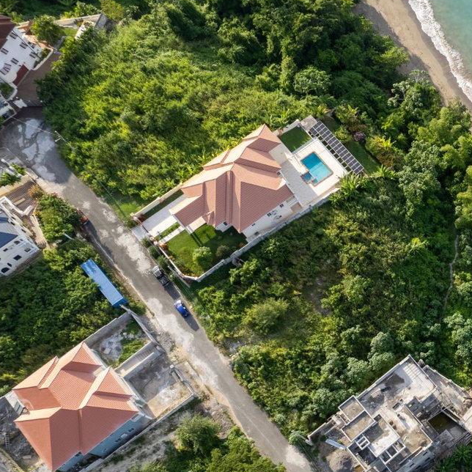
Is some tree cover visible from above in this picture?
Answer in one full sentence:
Yes, some tree cover is visible.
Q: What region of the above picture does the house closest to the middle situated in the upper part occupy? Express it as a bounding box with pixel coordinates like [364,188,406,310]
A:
[170,124,294,239]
